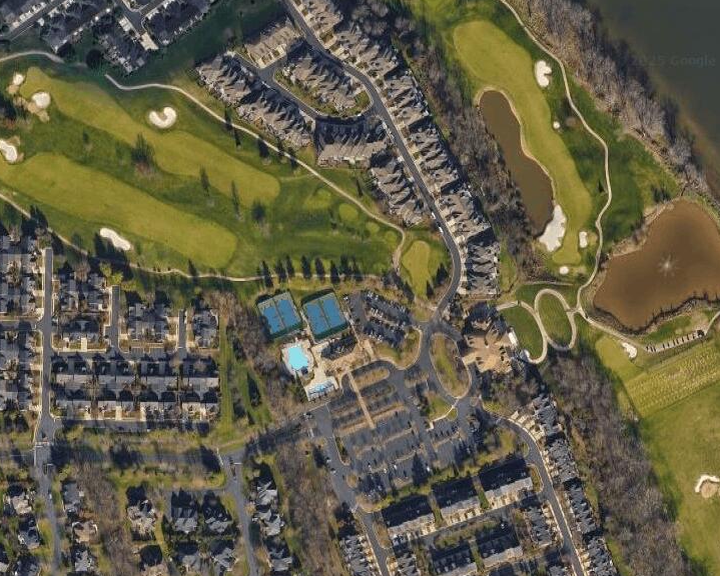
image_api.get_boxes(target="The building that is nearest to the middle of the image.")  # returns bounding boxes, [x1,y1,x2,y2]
[319,336,361,368]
